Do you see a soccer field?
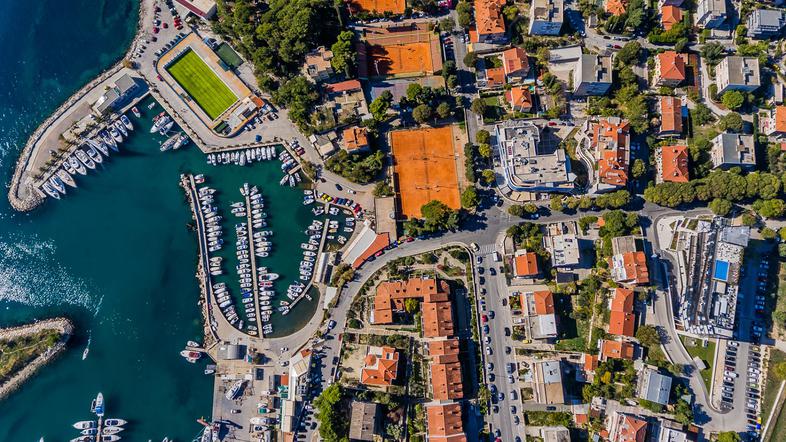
Yes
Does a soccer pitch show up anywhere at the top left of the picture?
Yes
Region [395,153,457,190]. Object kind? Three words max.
tennis court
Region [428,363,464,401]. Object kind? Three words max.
house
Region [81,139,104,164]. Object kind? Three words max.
boat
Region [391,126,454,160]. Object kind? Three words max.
tennis court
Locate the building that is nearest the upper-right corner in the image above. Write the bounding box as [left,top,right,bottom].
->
[749,8,783,36]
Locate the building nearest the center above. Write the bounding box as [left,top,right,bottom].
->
[375,196,397,238]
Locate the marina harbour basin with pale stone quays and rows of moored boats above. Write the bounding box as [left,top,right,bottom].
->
[8,0,374,442]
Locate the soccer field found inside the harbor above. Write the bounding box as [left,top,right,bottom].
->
[155,31,256,137]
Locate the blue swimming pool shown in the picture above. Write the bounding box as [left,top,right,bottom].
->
[712,259,731,282]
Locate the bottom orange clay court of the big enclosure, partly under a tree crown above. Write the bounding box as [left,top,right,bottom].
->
[399,180,461,217]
